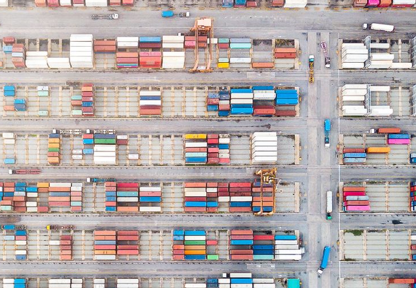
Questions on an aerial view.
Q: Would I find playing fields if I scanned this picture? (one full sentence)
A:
No, I find no playing field anywhere in the image.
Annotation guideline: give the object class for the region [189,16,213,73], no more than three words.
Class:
container crane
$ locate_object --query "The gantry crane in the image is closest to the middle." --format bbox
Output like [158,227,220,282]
[251,166,277,217]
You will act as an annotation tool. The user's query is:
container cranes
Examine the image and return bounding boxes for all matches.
[251,166,277,217]
[189,16,213,73]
